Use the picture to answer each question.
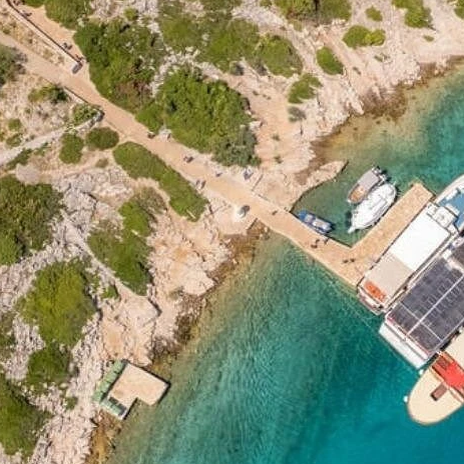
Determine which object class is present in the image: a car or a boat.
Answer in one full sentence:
I can see a boat in this picture.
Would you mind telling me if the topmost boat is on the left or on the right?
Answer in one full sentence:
You can find the topmost boat on the right side of the picture.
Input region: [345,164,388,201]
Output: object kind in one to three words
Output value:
boat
